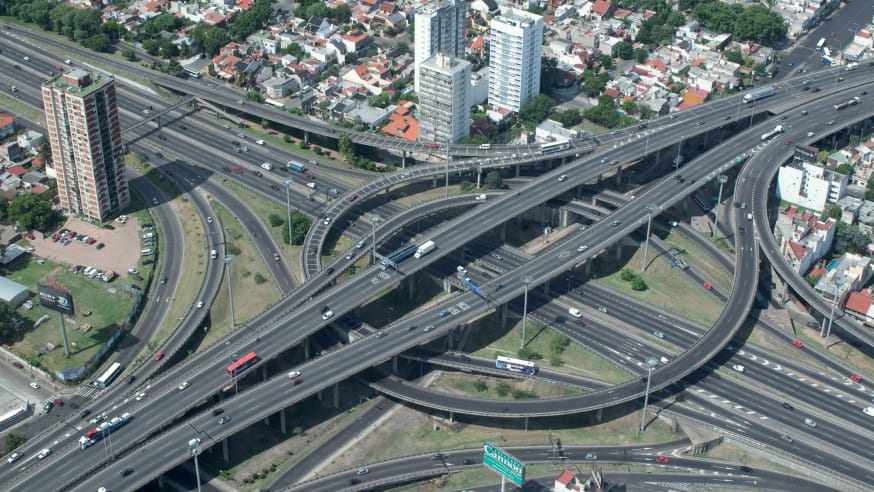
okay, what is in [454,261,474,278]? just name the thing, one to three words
vehicle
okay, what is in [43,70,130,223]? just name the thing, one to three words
building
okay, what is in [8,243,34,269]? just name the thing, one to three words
shed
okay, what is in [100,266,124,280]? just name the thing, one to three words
vehicle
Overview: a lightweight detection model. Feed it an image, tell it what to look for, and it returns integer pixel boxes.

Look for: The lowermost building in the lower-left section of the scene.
[0,374,44,434]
